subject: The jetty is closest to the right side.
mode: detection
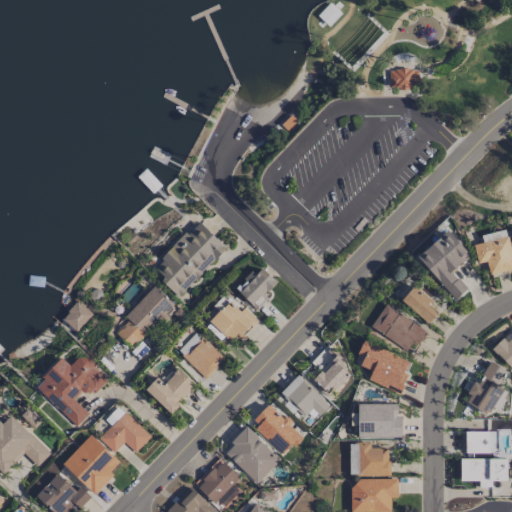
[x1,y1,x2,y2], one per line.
[192,4,239,83]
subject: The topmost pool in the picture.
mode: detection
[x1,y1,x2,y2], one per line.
[121,283,140,304]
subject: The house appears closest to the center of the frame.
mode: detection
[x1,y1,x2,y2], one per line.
[241,268,279,306]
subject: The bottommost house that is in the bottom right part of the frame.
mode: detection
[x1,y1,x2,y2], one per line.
[353,480,400,512]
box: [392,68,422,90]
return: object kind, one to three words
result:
building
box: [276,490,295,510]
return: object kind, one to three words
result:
swimming pool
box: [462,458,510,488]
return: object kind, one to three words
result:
house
